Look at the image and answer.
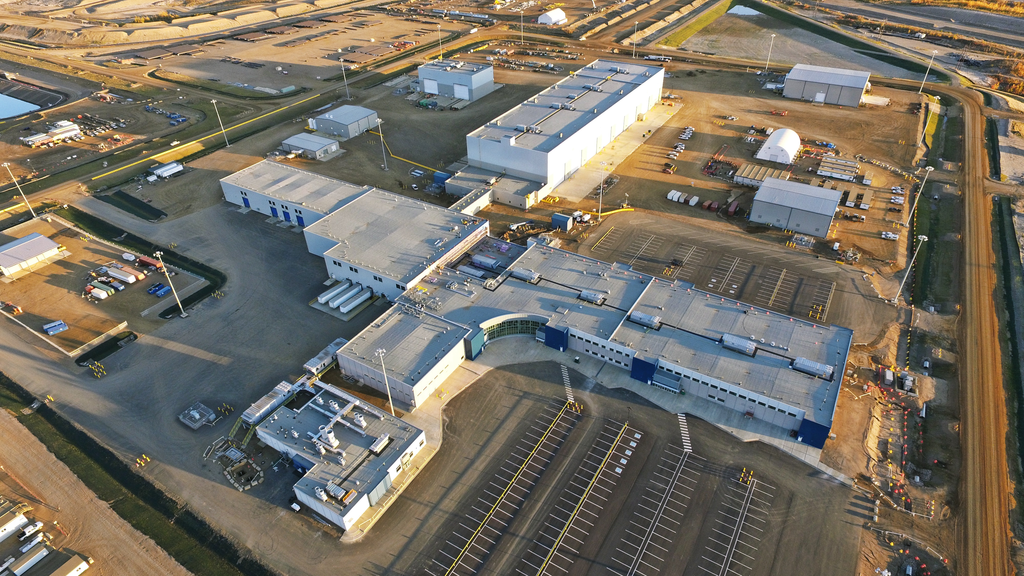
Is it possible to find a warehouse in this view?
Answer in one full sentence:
Yes, there is a warehouse in the image.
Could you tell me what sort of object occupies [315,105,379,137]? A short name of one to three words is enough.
shed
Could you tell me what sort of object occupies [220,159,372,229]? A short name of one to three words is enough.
building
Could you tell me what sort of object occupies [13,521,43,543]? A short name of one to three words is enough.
truck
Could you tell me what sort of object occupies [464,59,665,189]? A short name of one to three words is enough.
warehouse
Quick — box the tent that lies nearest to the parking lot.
[753,127,804,165]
